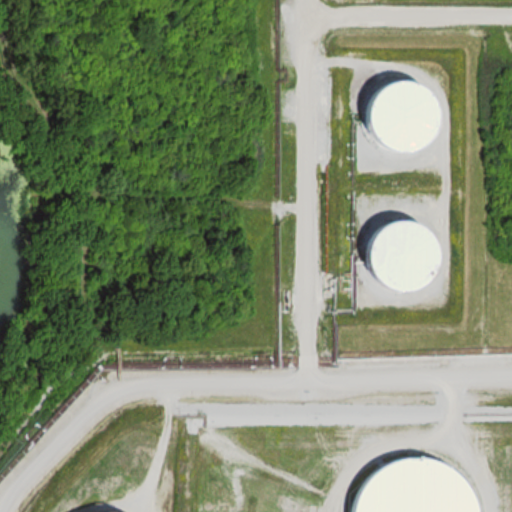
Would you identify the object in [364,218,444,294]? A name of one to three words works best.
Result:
storage tank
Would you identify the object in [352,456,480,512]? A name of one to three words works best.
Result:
storage tank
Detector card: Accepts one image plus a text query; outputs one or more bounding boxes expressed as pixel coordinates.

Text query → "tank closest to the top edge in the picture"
[364,79,444,155]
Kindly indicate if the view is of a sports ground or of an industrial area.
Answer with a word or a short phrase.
industrial area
